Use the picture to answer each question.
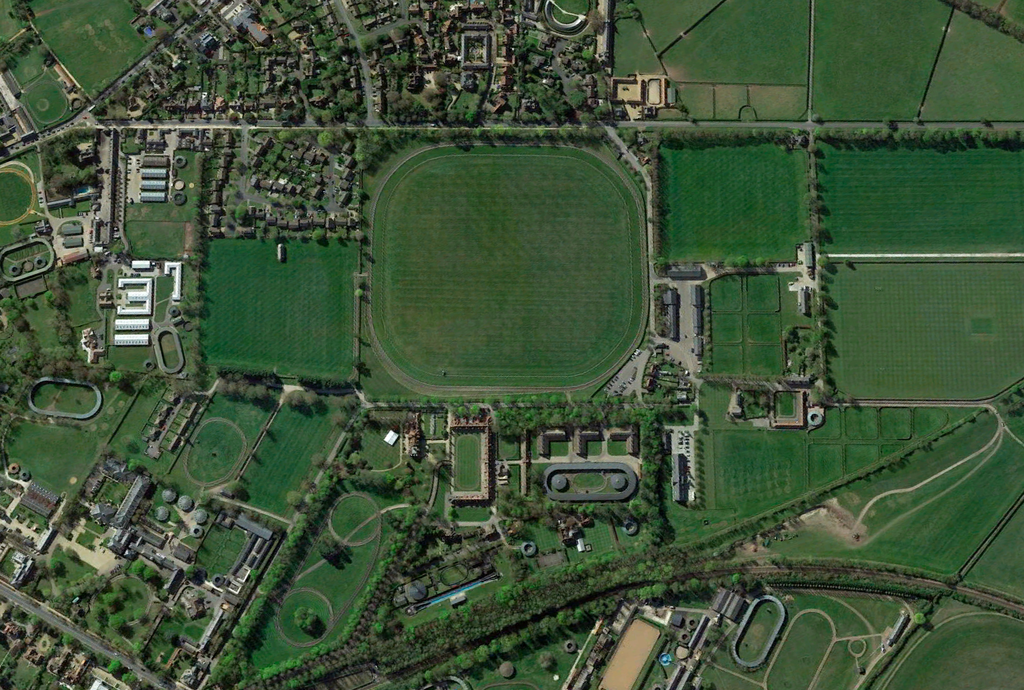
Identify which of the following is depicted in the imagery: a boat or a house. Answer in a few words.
house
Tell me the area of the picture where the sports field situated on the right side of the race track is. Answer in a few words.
right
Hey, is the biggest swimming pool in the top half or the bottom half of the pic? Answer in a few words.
bottom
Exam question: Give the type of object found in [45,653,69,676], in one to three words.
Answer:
house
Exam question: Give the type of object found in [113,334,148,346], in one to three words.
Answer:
barn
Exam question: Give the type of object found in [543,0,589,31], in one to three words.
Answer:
building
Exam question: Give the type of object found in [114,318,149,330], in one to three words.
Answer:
barn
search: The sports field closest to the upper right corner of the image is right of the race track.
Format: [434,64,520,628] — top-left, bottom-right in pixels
[828,263,1024,399]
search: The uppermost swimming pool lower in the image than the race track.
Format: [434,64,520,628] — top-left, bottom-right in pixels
[406,575,500,616]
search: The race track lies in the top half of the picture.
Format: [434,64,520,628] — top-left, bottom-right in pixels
[367,140,648,396]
